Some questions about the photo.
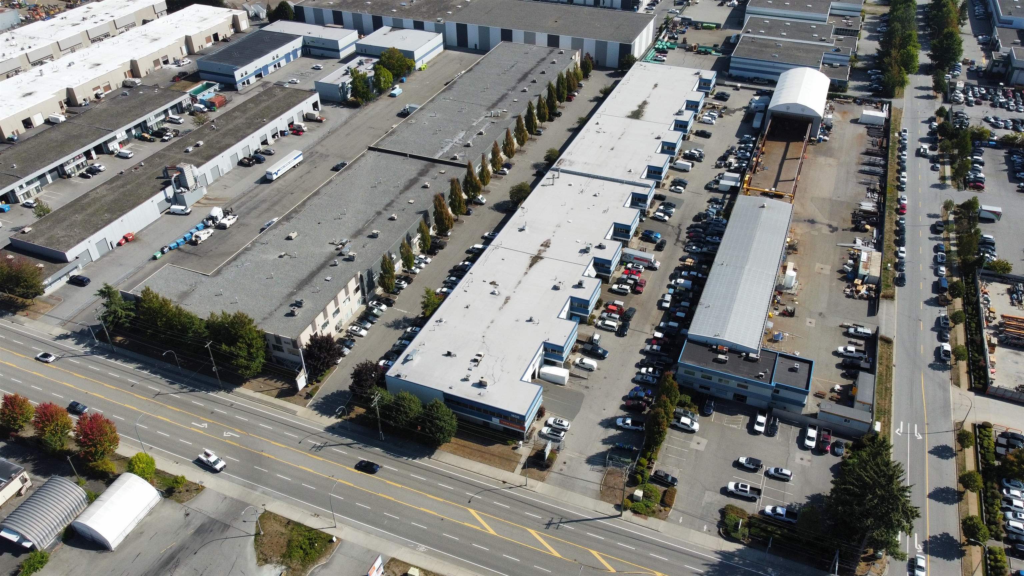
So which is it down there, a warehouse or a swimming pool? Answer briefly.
warehouse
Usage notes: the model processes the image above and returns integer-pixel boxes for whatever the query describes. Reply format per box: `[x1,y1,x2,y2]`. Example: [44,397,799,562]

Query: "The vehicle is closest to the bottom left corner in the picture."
[66,400,91,416]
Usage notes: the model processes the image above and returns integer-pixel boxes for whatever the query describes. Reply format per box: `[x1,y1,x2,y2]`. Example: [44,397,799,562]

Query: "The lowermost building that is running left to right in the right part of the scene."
[819,398,874,432]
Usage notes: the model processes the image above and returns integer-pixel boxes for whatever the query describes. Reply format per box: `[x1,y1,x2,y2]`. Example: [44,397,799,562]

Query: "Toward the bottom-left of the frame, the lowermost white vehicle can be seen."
[197,450,228,471]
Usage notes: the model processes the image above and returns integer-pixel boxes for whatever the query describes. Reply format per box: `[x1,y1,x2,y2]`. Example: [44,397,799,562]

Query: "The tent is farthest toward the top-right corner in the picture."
[859,106,888,123]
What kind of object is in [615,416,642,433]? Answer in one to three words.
vehicle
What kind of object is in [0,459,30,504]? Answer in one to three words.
building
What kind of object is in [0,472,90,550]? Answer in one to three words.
shed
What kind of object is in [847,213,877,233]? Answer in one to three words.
work vehicle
